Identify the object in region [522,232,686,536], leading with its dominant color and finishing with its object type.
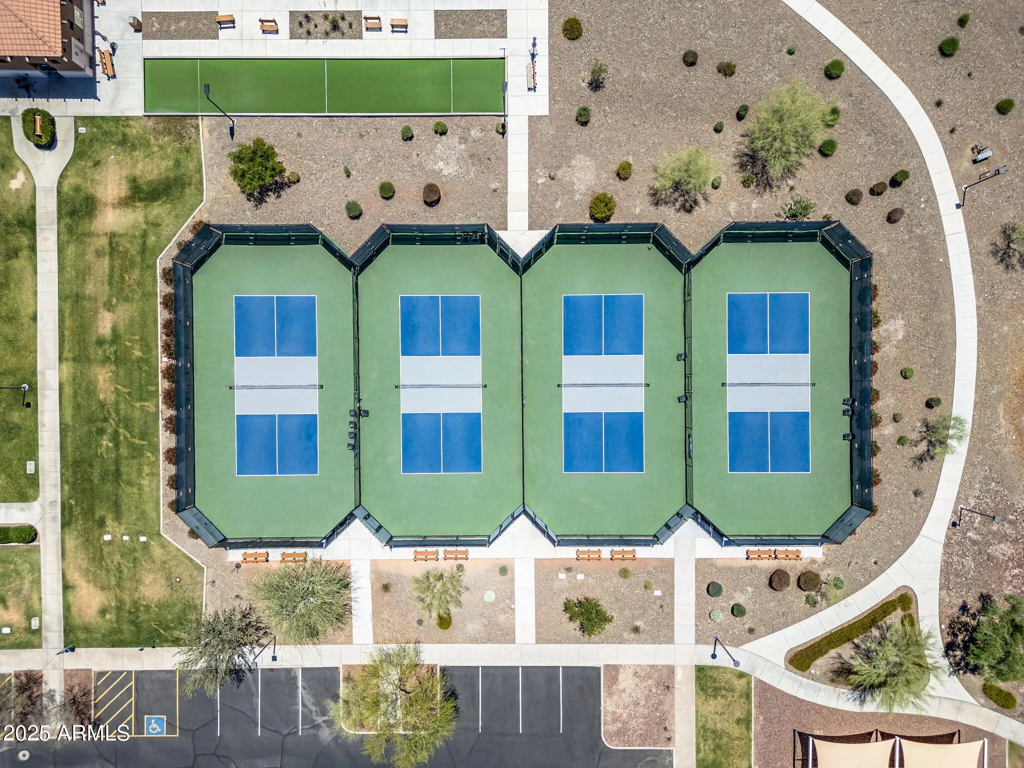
green sports court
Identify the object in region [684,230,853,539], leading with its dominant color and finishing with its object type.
green sports court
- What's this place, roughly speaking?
sports ground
